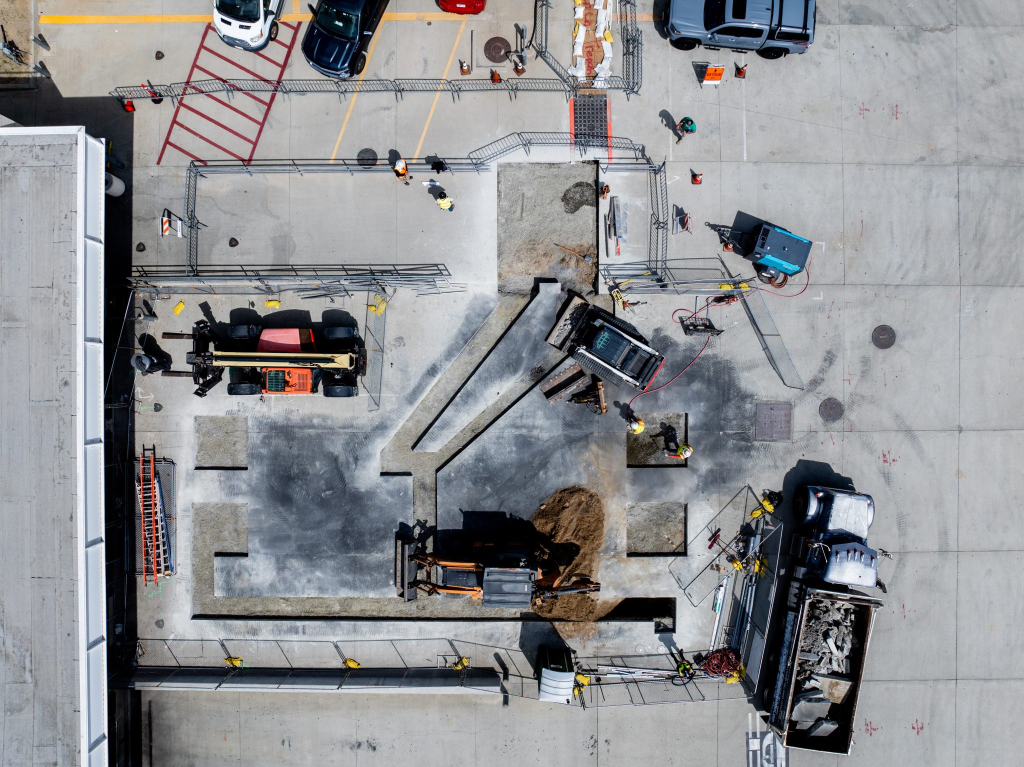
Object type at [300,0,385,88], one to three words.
truck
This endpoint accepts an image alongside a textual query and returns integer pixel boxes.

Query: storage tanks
[107,166,136,198]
